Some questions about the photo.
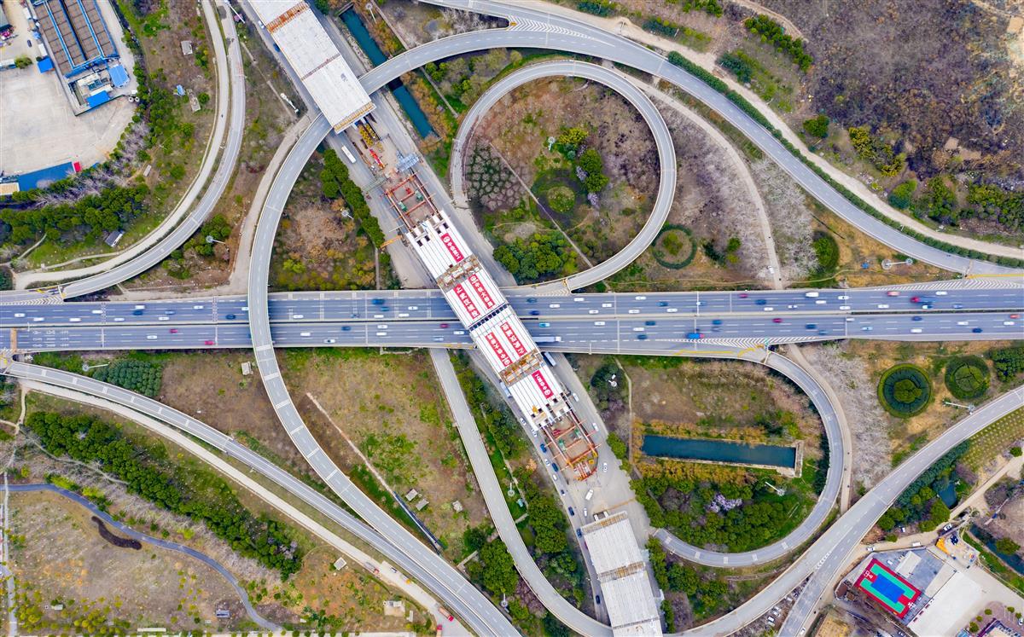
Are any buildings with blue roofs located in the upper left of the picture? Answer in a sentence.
Yes, you'll find a building with a blue roof in the upper left of the picture.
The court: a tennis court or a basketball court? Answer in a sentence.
The court in the image is a basketball court.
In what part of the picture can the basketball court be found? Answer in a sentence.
The basketball court is in the bottom right part of the image.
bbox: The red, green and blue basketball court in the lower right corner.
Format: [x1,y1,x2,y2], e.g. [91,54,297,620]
[854,558,921,620]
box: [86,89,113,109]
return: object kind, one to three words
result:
building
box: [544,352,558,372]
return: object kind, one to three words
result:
vehicle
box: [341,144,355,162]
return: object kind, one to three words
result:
vehicle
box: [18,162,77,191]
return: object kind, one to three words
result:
shed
